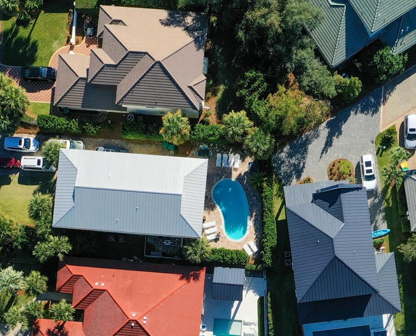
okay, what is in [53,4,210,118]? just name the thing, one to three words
house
